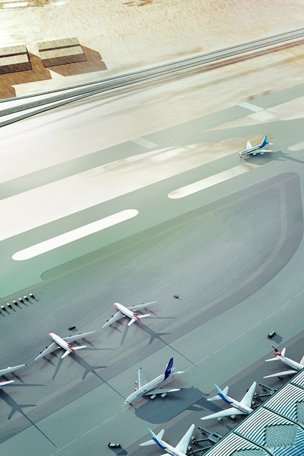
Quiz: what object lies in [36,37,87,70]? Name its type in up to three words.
hangar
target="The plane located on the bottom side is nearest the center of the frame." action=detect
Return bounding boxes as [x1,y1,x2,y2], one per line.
[105,303,158,329]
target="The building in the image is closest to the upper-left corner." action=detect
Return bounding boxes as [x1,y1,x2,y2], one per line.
[0,45,34,78]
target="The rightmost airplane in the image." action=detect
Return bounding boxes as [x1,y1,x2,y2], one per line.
[264,347,304,379]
